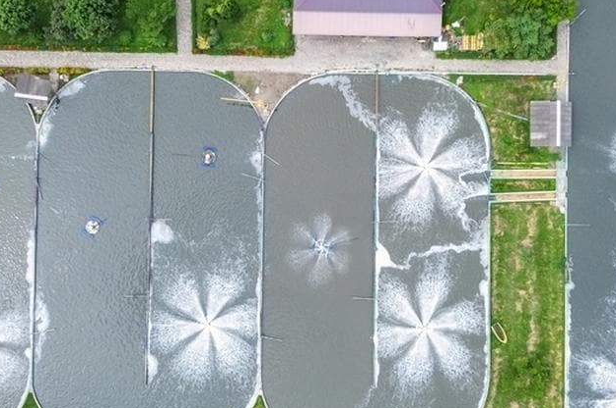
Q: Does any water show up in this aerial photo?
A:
Yes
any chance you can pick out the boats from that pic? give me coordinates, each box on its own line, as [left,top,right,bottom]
[493,324,505,343]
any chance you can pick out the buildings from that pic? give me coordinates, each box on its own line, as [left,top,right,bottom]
[14,71,60,113]
[293,0,446,41]
[526,98,571,148]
